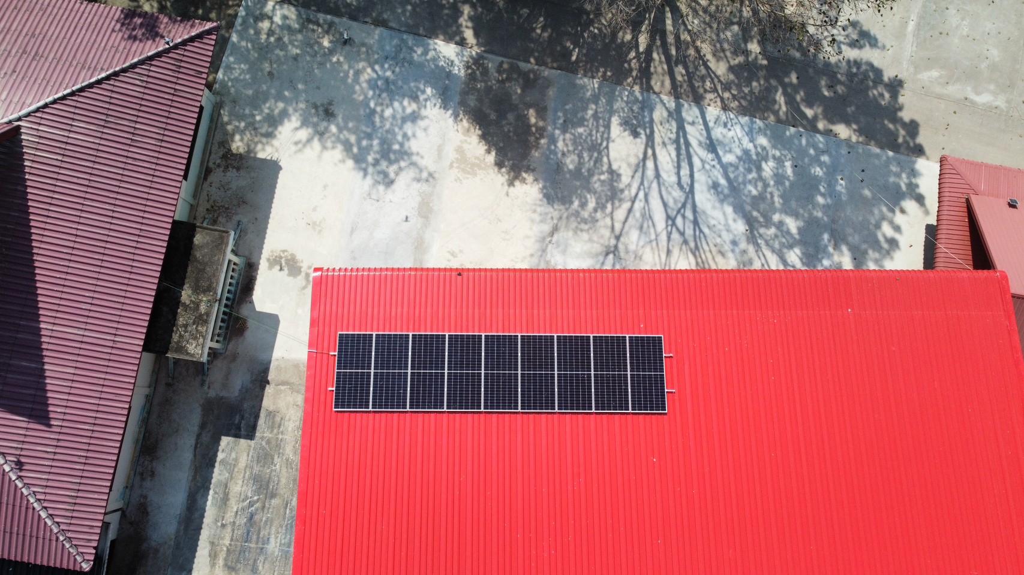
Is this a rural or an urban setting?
urban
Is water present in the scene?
No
